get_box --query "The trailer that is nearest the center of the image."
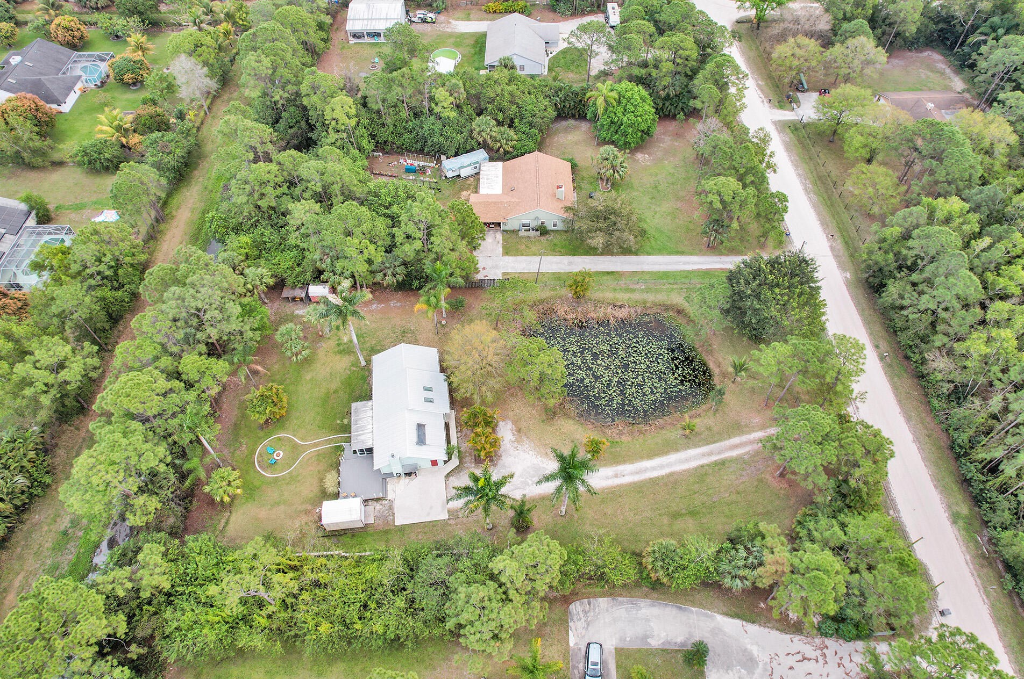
[443,150,488,179]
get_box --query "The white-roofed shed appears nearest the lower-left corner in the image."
[323,497,375,530]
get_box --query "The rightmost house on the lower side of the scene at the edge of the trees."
[351,342,450,483]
